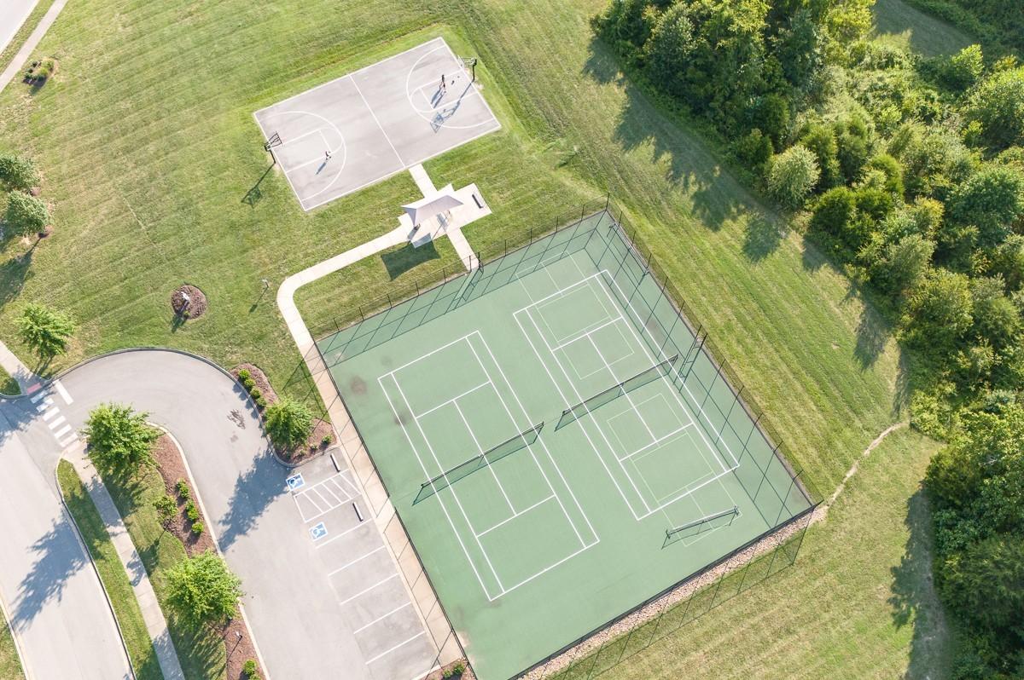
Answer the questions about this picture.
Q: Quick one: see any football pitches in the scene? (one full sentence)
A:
No, no football pitch is visible in the view.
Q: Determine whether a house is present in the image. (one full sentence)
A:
No, there appears to be no house in this shot.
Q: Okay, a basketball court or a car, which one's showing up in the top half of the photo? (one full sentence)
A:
There is a basketball court in the top half of the photo.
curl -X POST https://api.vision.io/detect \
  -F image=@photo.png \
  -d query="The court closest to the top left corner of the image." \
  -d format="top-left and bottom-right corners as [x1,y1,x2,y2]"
[252,36,503,211]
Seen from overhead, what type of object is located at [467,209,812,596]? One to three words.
tennis court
